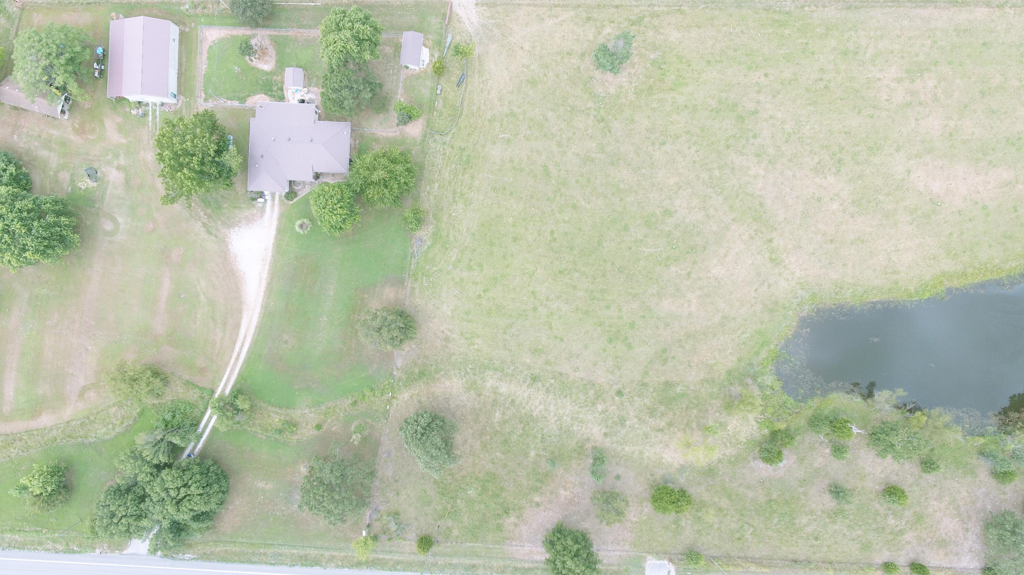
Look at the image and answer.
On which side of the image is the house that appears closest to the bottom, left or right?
left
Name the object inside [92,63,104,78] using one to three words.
vehicle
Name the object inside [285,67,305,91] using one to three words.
shed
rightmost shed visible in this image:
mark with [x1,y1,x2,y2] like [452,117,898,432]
[399,30,424,70]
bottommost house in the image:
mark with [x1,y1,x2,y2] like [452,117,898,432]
[248,101,352,192]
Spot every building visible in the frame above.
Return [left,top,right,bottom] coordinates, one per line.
[248,101,352,192]
[0,73,71,119]
[107,15,178,102]
[285,67,305,91]
[399,30,424,70]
